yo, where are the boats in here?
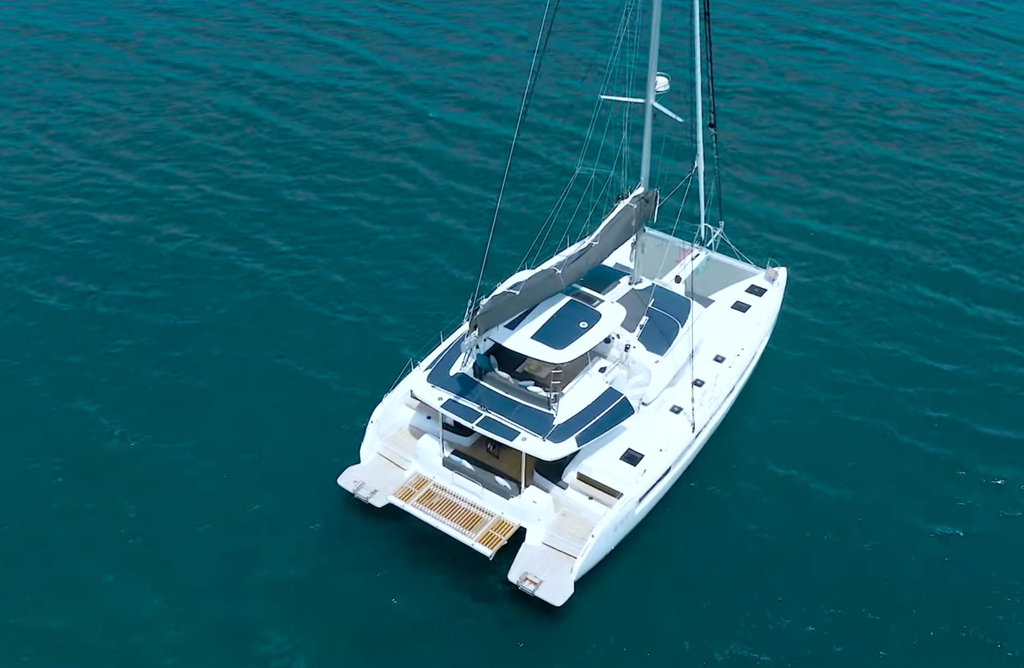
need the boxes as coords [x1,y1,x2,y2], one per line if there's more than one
[340,0,786,608]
